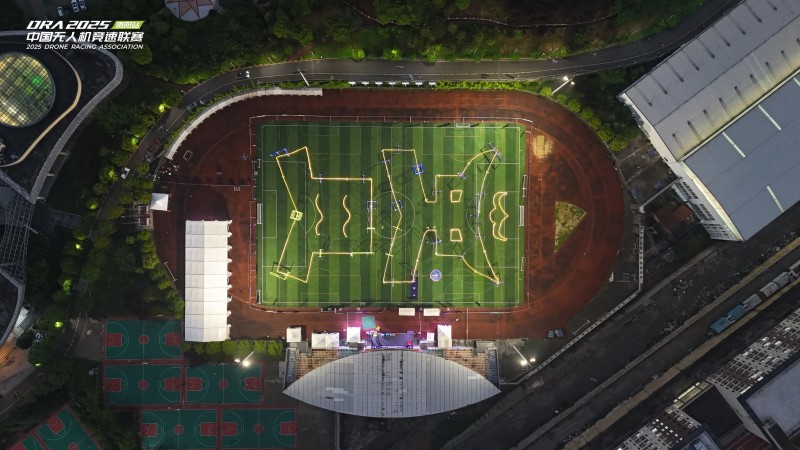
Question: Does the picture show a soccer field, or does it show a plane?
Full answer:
I can see a soccer field in this picture.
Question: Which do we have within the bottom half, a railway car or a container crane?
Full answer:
The feature located within the bottom half is a railway car.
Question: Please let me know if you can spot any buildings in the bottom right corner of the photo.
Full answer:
Yes, I can see a building in the bottom right corner of the photo.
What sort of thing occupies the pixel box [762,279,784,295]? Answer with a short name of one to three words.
rail car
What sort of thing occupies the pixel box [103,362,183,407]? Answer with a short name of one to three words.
basketball court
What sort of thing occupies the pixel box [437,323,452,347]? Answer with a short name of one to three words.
tent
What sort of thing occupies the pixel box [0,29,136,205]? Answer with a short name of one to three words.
building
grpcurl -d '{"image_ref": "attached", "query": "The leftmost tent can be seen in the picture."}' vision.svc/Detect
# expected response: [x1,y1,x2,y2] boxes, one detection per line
[151,193,169,210]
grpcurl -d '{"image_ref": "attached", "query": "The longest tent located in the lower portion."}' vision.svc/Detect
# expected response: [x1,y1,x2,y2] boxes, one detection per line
[185,219,232,343]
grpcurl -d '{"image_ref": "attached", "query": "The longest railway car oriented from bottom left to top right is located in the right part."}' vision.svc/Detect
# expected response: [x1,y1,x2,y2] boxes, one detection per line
[711,304,748,334]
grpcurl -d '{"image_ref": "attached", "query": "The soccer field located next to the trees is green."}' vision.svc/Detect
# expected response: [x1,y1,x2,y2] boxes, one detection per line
[257,122,526,307]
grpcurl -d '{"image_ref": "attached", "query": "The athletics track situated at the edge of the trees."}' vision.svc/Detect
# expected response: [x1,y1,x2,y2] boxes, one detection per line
[156,89,626,340]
